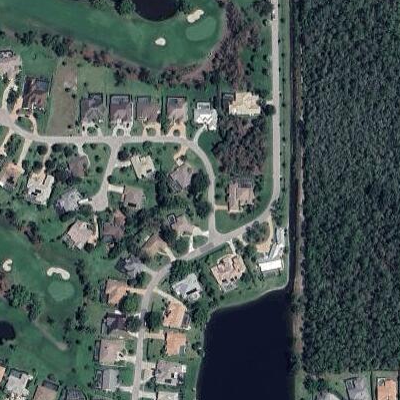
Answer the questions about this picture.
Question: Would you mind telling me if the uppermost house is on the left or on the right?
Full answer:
The uppermost house appears in the left half of the scene.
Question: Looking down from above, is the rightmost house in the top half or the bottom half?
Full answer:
The bottom half of the photo is where the rightmost house is.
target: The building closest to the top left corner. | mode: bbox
[0,50,21,78]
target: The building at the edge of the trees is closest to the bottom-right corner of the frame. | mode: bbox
[377,376,397,400]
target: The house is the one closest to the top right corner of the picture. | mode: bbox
[227,91,260,115]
